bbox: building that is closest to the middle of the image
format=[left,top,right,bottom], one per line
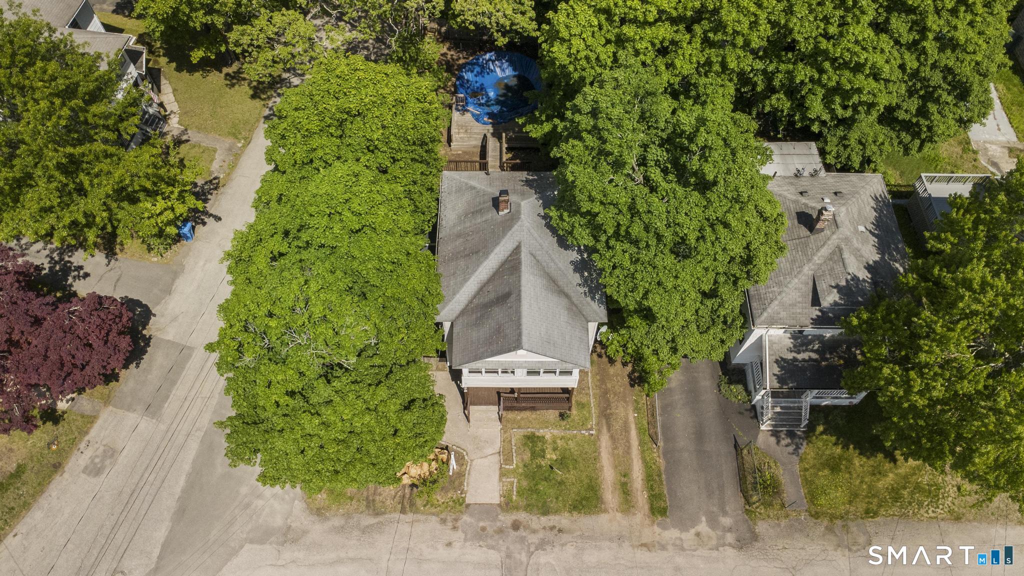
[434,160,609,435]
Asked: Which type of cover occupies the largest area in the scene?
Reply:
trees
